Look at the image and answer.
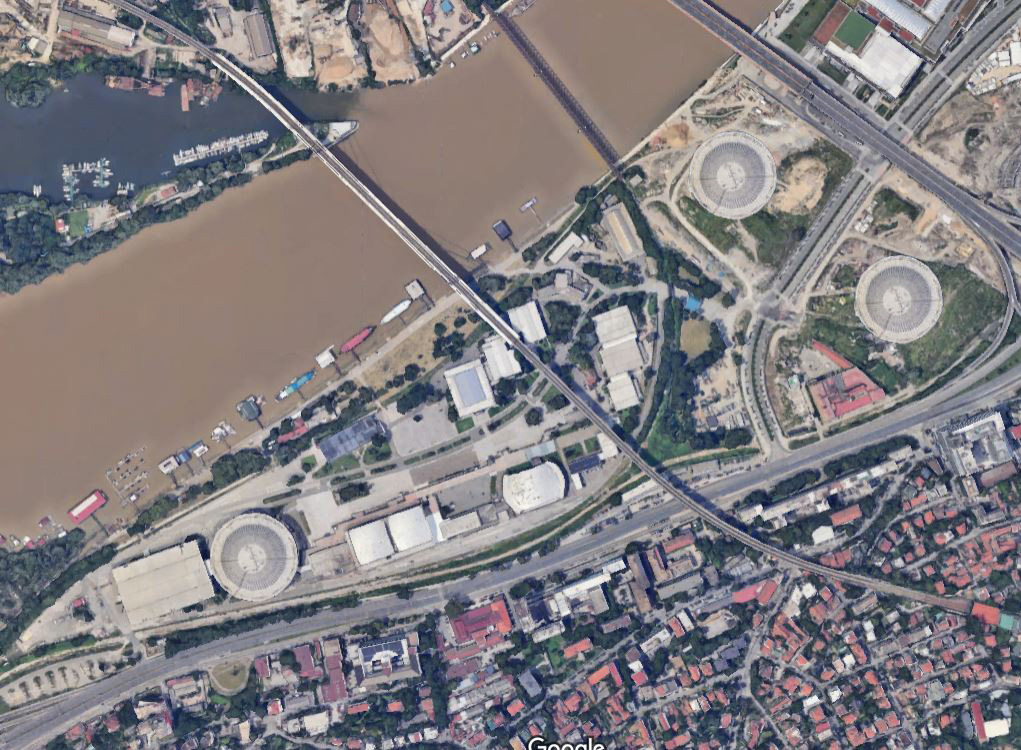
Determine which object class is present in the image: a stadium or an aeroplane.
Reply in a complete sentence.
This aerial view contains a stadium.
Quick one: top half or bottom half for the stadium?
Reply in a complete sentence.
The stadium is in the bottom half of the image.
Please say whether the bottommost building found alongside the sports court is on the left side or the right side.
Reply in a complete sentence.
You can find the bottommost building found alongside the sports court on the right side of the picture.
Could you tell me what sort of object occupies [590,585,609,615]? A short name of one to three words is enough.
building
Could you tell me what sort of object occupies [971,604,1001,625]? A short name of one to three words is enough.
house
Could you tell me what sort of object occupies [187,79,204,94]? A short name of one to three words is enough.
ship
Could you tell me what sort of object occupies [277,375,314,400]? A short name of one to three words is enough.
boat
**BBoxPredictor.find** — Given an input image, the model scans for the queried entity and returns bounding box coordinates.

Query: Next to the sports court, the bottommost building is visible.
[825,26,925,98]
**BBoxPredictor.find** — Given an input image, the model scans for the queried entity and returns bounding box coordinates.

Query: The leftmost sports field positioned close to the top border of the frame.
[780,0,837,52]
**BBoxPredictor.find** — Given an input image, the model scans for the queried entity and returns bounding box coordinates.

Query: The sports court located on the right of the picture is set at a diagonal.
[814,1,851,44]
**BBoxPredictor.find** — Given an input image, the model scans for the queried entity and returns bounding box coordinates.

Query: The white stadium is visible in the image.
[503,461,565,515]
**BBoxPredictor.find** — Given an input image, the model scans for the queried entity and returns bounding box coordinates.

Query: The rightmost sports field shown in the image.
[836,11,874,49]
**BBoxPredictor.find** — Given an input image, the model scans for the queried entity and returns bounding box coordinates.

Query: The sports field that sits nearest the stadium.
[680,322,711,357]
